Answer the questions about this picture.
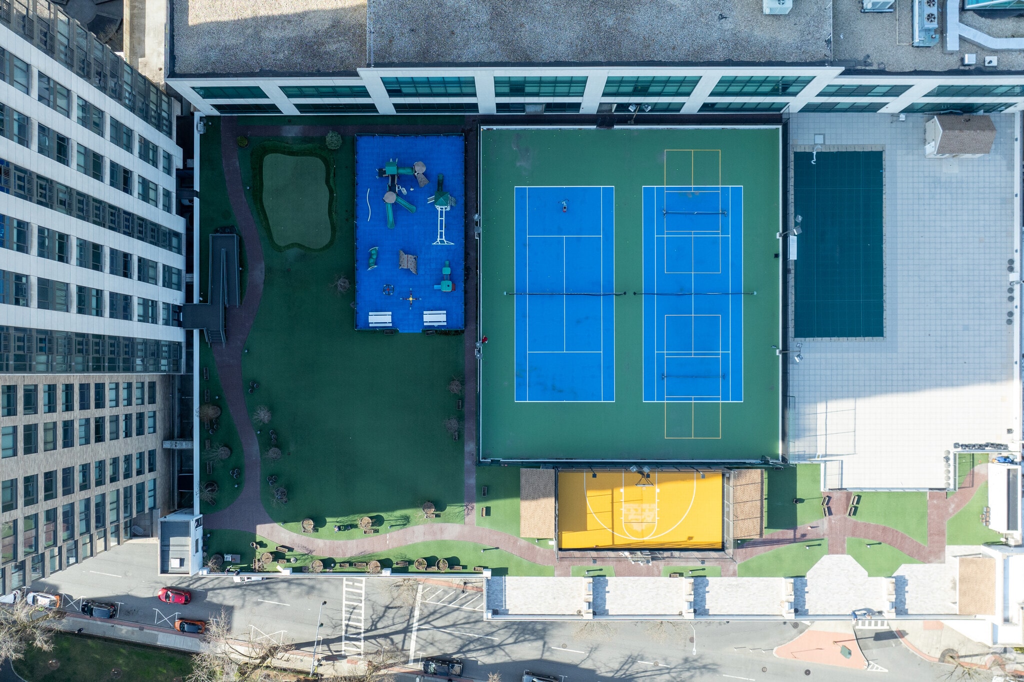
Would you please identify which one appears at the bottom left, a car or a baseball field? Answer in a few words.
car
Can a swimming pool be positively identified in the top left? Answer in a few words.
No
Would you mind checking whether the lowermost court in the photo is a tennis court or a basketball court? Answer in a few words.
basketball court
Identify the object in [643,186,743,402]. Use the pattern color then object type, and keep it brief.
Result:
blue tennis court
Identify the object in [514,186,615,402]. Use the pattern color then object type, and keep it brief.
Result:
blue tennis court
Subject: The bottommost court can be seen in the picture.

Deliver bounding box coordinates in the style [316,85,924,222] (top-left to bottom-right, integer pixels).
[556,465,726,551]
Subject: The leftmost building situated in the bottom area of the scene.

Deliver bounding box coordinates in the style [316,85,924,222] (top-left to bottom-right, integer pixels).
[0,375,172,598]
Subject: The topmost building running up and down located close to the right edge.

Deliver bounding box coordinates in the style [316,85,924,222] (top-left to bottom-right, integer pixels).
[989,464,1024,543]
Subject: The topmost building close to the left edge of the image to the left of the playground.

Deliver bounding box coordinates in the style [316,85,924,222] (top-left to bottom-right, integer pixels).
[0,0,194,375]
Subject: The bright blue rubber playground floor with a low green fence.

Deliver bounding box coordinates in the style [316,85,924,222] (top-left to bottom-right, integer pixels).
[356,136,464,333]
